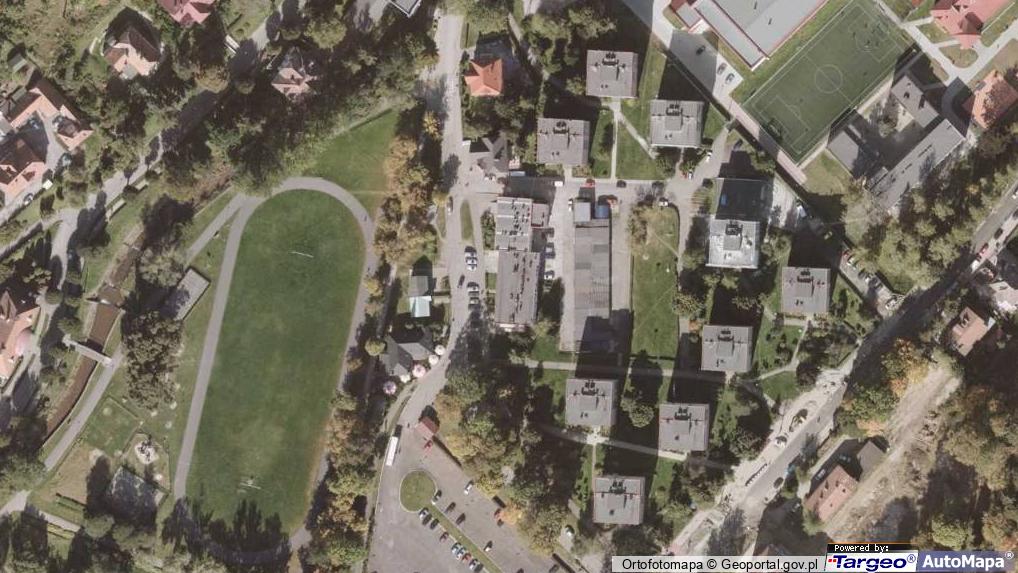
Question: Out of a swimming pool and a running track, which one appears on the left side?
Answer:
running track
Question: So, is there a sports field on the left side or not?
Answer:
Yes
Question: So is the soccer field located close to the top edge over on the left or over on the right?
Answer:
right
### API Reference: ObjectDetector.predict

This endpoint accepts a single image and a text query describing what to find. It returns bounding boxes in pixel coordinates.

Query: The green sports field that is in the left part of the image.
[187,190,365,549]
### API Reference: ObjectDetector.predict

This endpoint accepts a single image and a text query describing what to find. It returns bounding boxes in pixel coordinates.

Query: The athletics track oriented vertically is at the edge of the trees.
[176,177,378,561]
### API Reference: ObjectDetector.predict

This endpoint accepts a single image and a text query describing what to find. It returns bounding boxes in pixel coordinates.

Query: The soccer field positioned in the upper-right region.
[742,0,908,164]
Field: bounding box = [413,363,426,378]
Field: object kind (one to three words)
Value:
umbrella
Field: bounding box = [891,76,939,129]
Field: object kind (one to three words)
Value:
building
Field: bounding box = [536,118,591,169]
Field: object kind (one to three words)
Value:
building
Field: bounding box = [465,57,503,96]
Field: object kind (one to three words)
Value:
house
